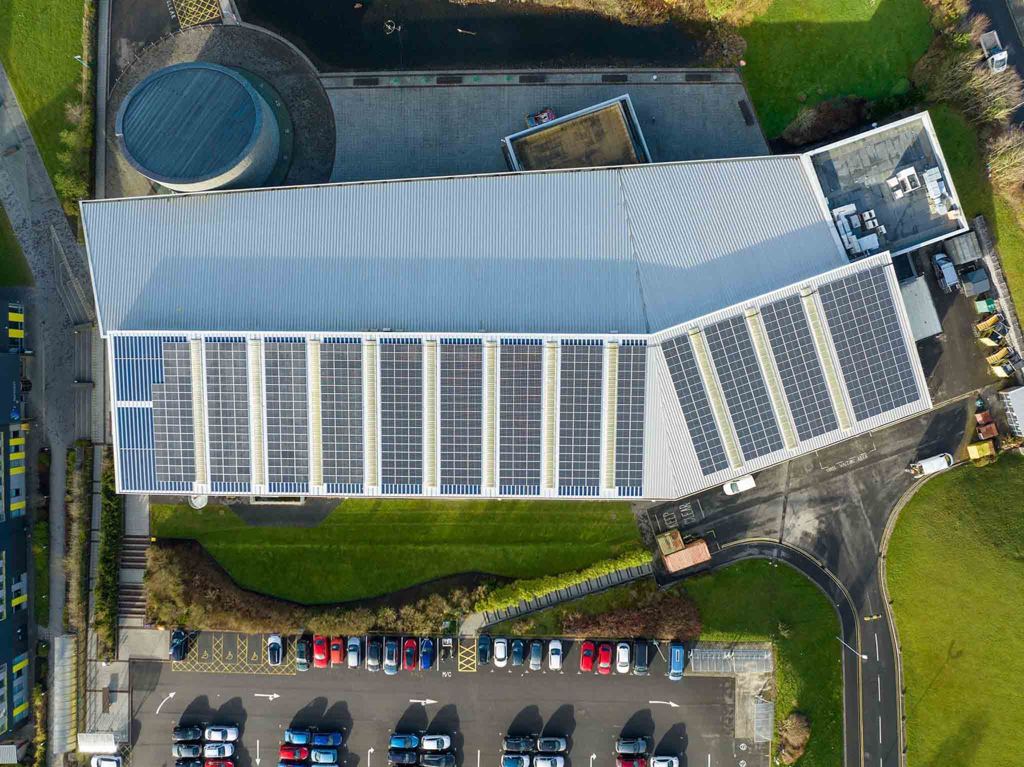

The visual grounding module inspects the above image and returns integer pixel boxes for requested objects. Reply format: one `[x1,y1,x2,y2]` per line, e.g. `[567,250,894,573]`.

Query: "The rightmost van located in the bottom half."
[905,452,955,484]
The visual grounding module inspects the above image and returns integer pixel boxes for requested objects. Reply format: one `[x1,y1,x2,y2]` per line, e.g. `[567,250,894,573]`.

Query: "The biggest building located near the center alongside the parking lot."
[78,153,932,510]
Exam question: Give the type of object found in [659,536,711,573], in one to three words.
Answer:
shipping container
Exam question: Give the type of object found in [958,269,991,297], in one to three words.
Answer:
building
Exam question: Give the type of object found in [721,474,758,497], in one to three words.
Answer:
vehicle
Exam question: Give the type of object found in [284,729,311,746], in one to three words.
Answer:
car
